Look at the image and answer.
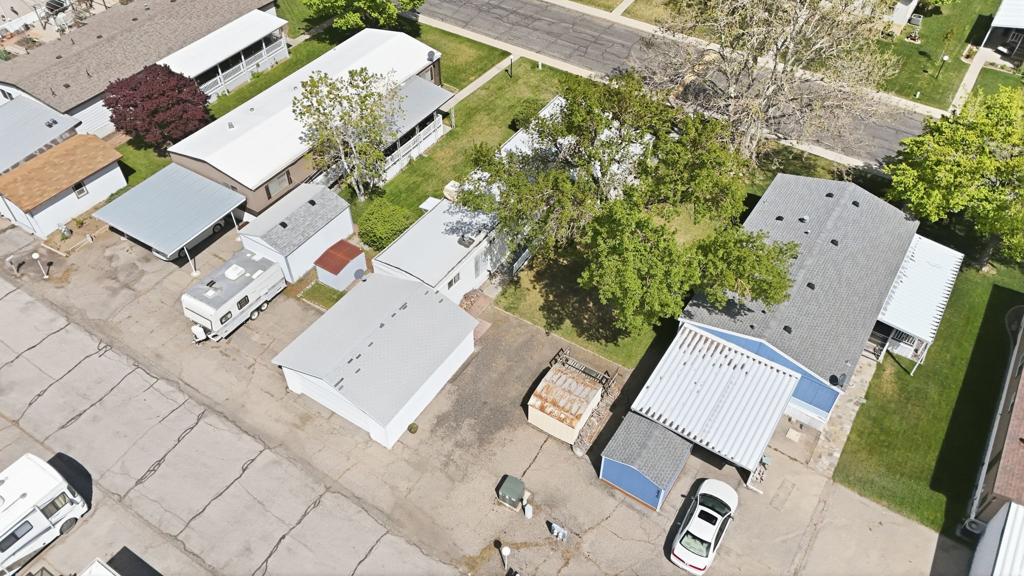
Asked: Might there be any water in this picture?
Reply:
No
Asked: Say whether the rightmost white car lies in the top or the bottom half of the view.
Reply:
bottom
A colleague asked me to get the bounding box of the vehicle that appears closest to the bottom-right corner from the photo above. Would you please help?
[673,477,734,576]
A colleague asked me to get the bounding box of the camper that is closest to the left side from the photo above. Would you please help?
[0,456,90,576]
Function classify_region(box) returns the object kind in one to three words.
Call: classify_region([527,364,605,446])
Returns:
shed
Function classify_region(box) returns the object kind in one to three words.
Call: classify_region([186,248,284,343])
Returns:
trailer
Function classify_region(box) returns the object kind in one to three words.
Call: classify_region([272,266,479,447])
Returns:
building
